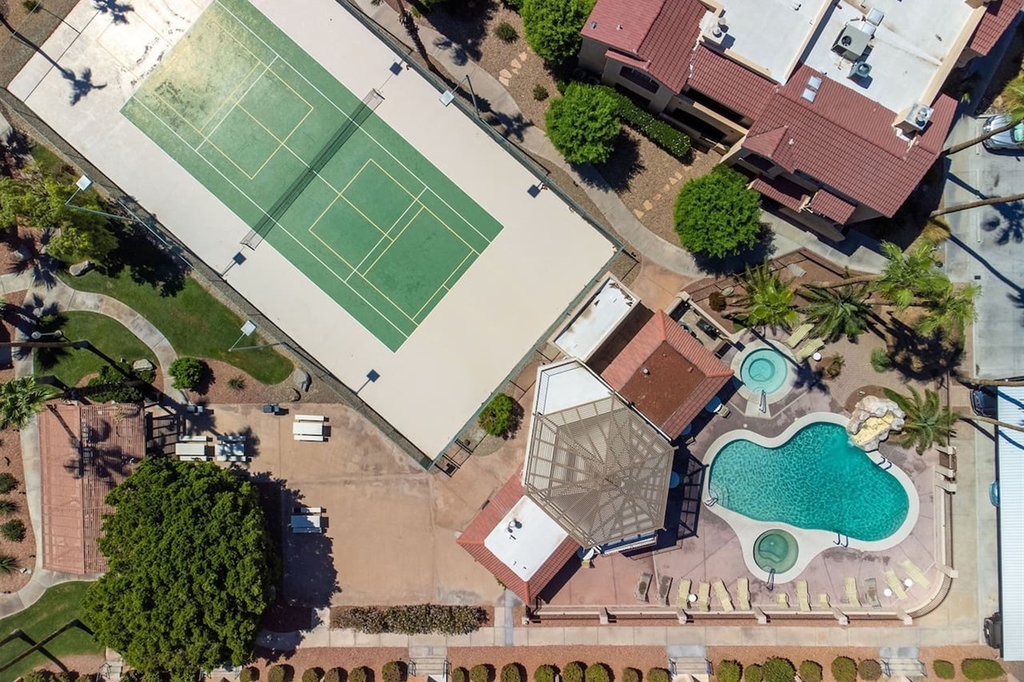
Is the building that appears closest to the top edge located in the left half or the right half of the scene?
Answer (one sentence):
The building that appears closest to the top edge sits on the right side.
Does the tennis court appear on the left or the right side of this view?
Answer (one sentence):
You can find the tennis court on the left side of the picture.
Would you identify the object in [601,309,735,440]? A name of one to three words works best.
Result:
building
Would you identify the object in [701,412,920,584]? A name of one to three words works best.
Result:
swimming pool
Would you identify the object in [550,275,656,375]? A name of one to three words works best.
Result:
building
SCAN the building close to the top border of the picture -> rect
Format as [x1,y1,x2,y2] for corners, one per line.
[580,0,1019,259]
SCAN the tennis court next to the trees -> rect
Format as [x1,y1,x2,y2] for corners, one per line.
[9,0,618,460]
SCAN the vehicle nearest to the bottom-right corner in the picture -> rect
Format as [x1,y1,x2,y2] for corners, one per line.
[982,612,1001,648]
